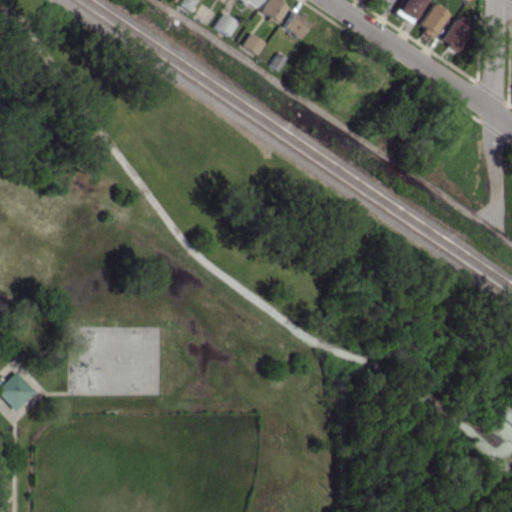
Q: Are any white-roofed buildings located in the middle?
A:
No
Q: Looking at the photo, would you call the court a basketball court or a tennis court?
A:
basketball court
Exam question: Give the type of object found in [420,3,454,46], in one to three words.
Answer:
house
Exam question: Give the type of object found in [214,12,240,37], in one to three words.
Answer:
building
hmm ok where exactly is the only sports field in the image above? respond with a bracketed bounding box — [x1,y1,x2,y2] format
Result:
[33,412,257,512]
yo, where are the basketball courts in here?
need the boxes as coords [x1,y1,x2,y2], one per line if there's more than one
[69,327,160,396]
